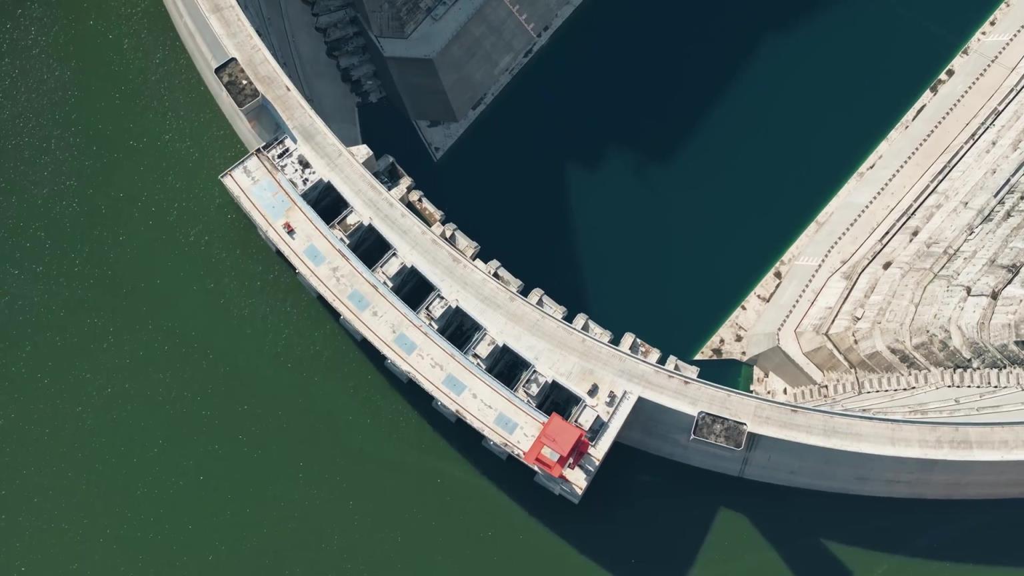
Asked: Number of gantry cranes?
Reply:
1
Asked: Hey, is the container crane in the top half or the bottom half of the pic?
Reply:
bottom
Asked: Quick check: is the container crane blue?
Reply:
No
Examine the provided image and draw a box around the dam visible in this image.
[164,0,1024,507]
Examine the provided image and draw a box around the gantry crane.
[523,411,592,477]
